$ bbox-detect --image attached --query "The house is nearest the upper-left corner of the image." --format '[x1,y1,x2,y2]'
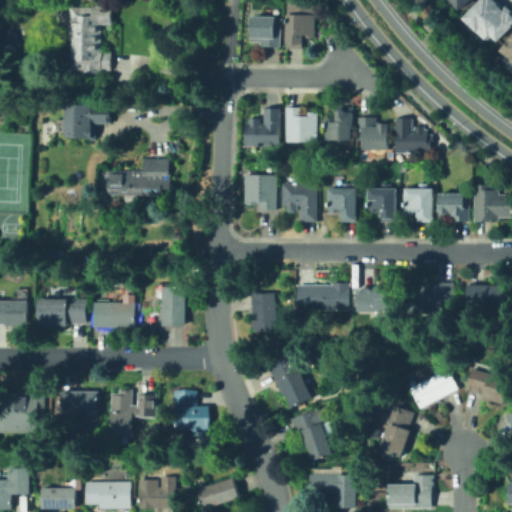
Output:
[68,8,112,72]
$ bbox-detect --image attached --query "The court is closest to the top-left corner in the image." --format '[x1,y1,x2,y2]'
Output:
[0,133,30,213]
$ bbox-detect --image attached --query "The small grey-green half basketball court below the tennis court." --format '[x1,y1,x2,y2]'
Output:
[0,214,20,242]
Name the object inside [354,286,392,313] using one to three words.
house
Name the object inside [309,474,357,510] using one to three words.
house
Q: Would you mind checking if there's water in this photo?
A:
No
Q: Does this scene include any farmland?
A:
No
